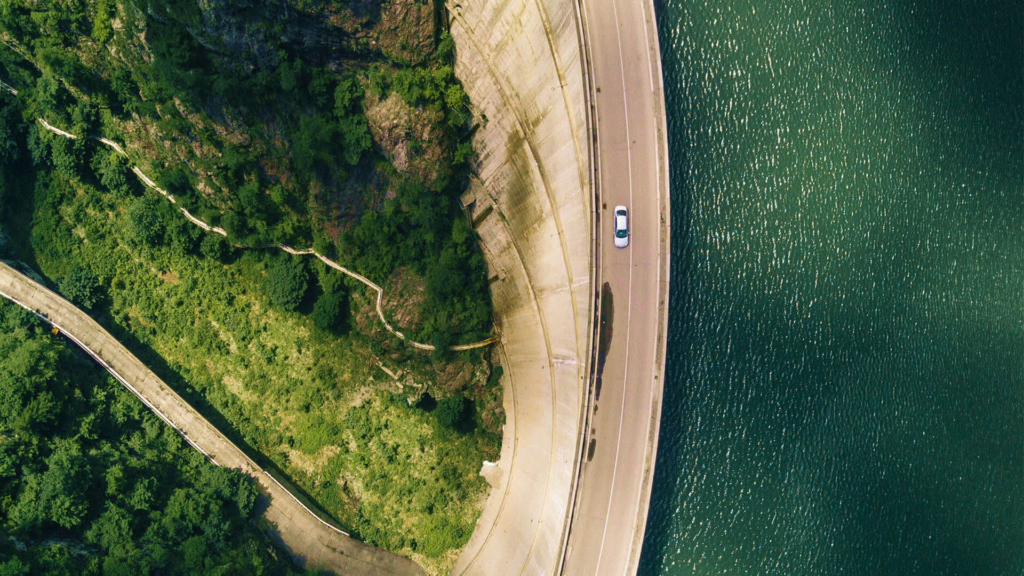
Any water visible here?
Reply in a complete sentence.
Yes, the picture does contain water.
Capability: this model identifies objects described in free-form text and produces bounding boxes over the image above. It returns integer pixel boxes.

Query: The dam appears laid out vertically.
[444,0,670,576]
